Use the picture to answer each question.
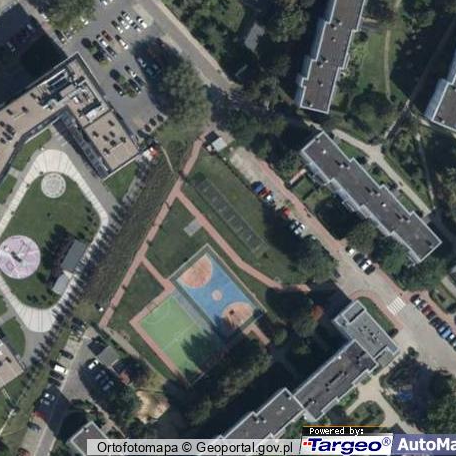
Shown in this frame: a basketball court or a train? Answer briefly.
basketball court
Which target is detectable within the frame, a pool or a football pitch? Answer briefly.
football pitch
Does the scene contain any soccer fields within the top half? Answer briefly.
No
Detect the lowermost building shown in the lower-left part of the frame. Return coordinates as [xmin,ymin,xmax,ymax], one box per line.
[63,418,124,456]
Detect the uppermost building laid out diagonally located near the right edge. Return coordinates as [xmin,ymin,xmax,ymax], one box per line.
[294,130,442,262]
